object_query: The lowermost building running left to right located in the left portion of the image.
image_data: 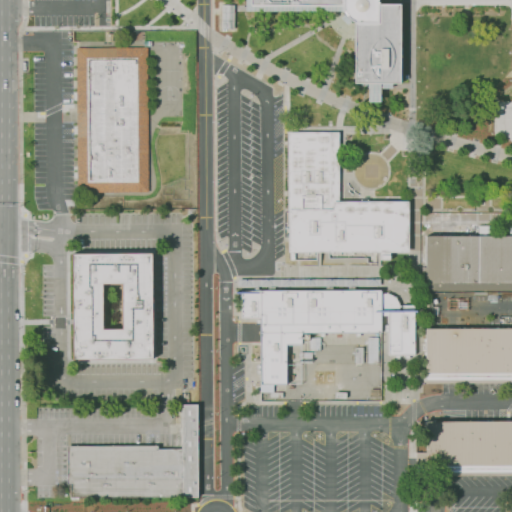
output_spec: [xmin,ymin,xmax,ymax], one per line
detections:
[70,446,183,500]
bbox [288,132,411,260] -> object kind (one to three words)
building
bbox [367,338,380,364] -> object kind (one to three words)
shed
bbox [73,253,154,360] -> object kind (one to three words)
building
